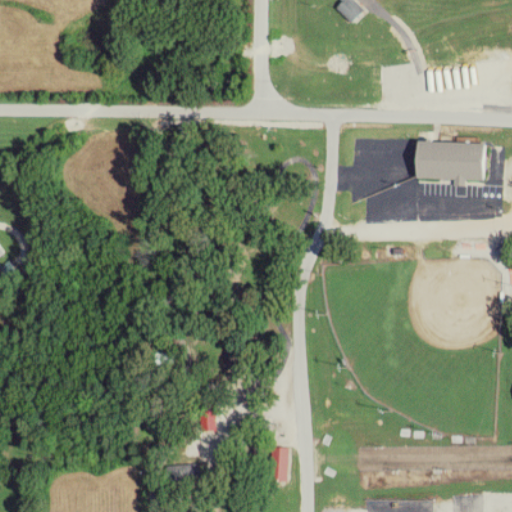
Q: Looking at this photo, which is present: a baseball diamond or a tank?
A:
baseball diamond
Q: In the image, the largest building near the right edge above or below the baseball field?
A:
above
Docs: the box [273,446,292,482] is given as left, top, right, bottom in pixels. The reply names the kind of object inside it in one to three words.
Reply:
barn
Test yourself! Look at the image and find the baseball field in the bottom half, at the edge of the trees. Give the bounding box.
[322,242,502,440]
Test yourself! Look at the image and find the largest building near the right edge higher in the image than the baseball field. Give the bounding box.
[414,140,487,188]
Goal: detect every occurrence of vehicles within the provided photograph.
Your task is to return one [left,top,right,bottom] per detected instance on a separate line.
[471,65,478,86]
[452,66,462,91]
[444,66,452,91]
[436,68,444,94]
[428,68,435,93]
[462,64,470,90]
